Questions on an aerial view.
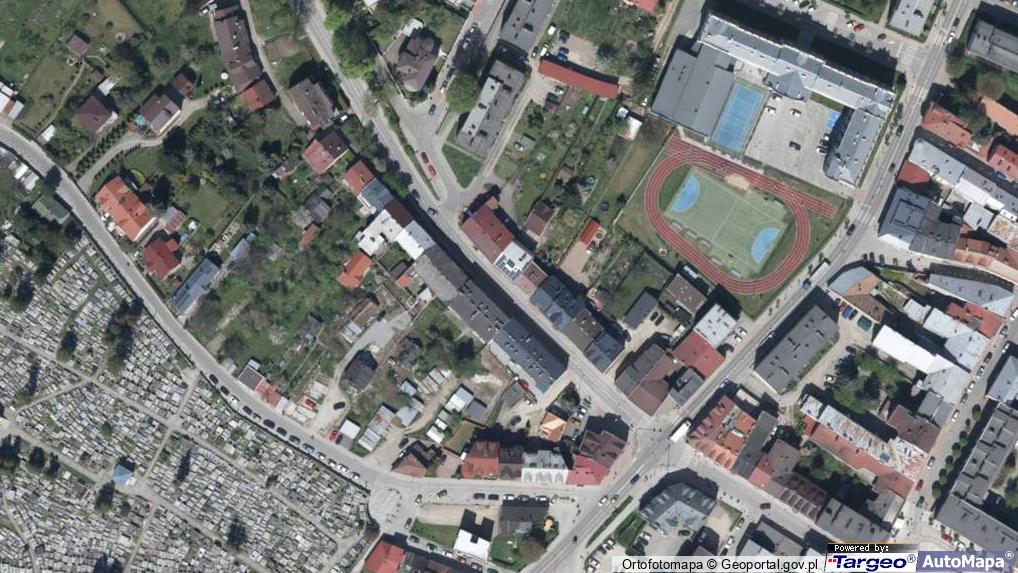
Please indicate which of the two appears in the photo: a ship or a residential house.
residential house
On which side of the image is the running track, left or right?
right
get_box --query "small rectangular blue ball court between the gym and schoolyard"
[709,77,768,156]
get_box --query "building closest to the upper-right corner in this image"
[963,21,1018,79]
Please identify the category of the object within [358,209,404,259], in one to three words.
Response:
building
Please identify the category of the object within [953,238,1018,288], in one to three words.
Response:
house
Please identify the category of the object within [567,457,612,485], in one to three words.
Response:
house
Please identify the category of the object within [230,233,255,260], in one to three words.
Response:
shed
